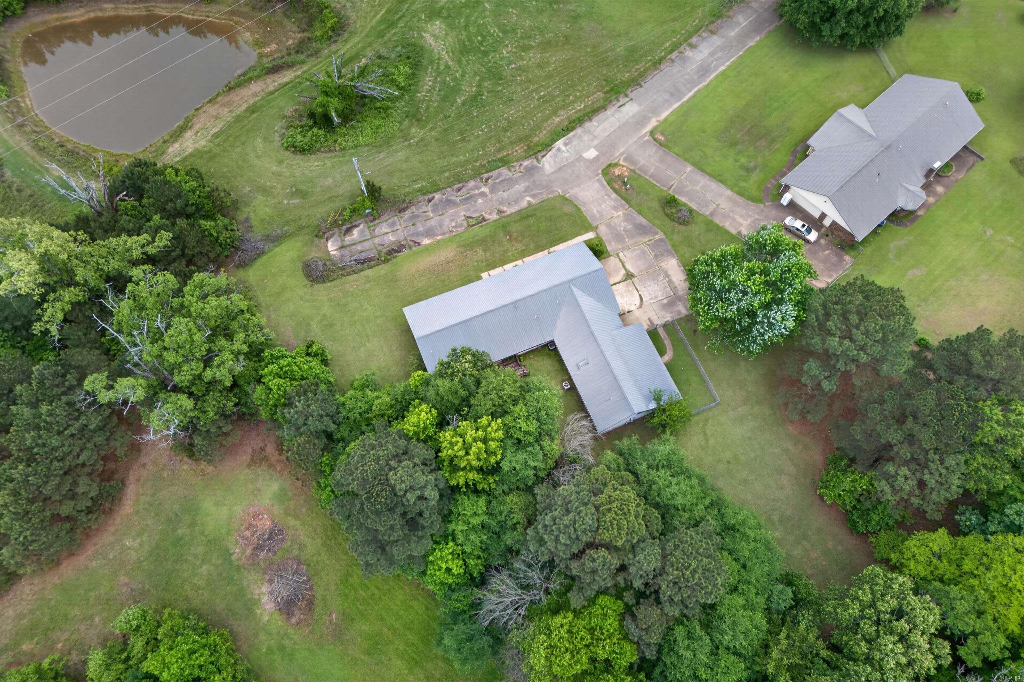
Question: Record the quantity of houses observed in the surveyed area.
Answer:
2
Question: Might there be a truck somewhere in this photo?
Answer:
No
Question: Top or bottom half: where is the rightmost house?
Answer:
top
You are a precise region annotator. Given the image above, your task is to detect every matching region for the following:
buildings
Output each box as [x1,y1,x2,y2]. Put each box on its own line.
[403,242,683,434]
[778,73,984,245]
